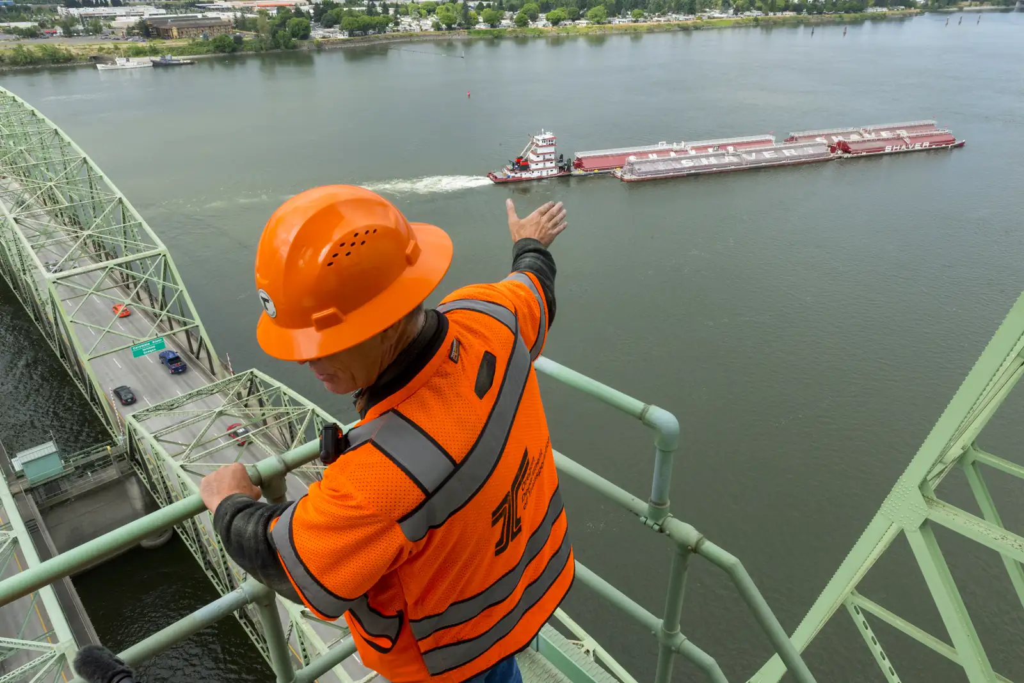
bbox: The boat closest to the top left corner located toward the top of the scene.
[95,50,153,69]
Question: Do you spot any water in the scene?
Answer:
Yes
